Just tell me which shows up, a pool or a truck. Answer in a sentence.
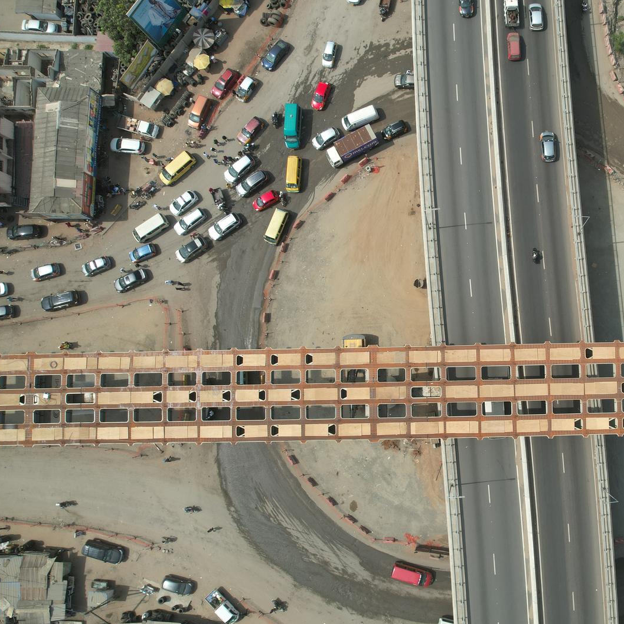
The one in the frame is a truck.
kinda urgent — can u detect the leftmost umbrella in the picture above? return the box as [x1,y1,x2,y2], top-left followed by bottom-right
[156,77,175,95]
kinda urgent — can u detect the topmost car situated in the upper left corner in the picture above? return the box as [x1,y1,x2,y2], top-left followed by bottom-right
[22,18,60,31]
